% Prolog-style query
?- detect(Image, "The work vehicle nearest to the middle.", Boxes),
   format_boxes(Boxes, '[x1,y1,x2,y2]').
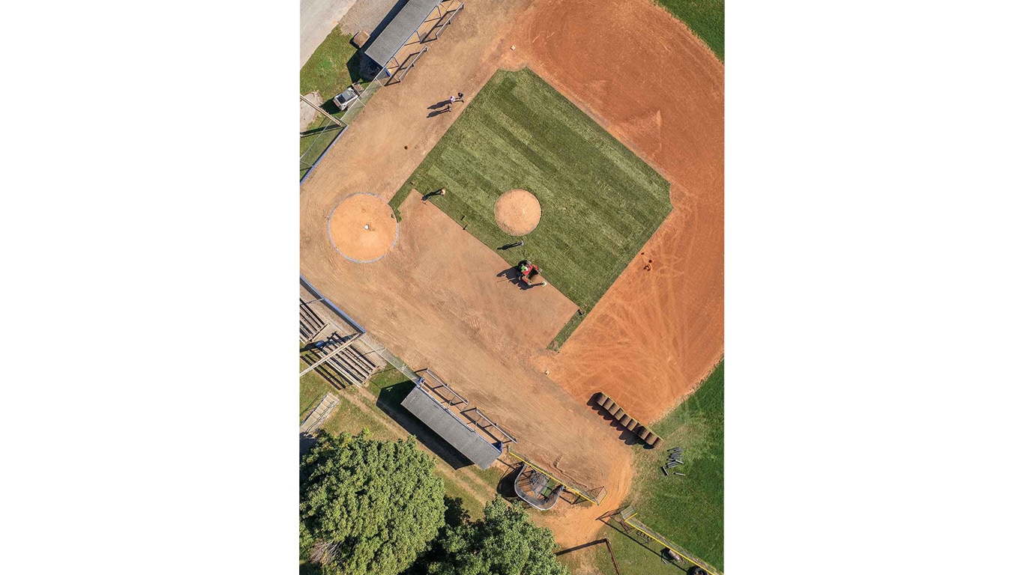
[516,261,544,288]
